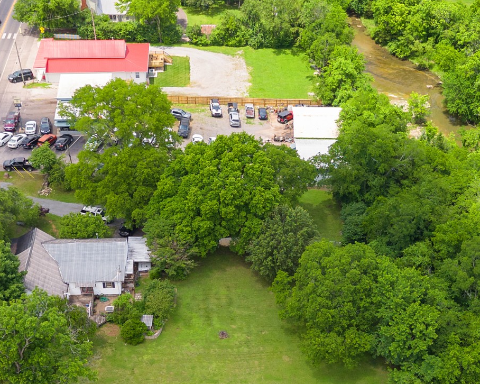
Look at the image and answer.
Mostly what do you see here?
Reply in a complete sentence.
The bulk of the photo consists of trees.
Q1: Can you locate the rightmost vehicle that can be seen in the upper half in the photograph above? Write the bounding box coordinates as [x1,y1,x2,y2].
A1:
[277,110,293,124]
